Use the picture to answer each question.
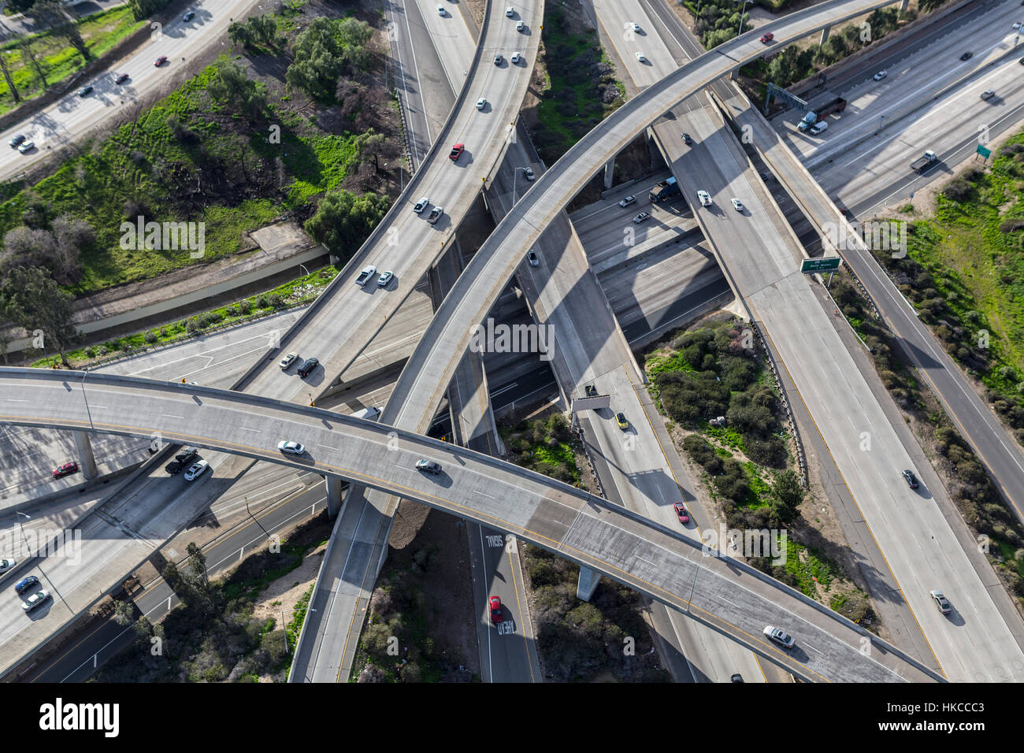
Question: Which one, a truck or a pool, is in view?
truck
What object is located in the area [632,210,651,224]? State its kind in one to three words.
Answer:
car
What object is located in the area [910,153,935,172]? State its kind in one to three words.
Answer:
vehicle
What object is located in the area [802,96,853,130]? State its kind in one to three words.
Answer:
truck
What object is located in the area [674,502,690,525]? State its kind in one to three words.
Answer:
car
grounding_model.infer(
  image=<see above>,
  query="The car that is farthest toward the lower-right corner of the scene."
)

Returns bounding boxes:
[931,590,951,615]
